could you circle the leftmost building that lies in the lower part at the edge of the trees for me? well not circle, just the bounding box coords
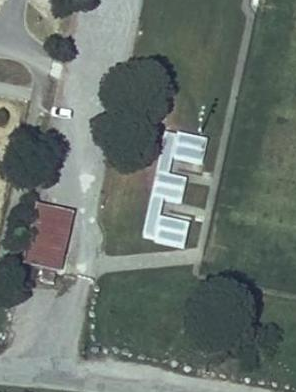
[25,202,75,286]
